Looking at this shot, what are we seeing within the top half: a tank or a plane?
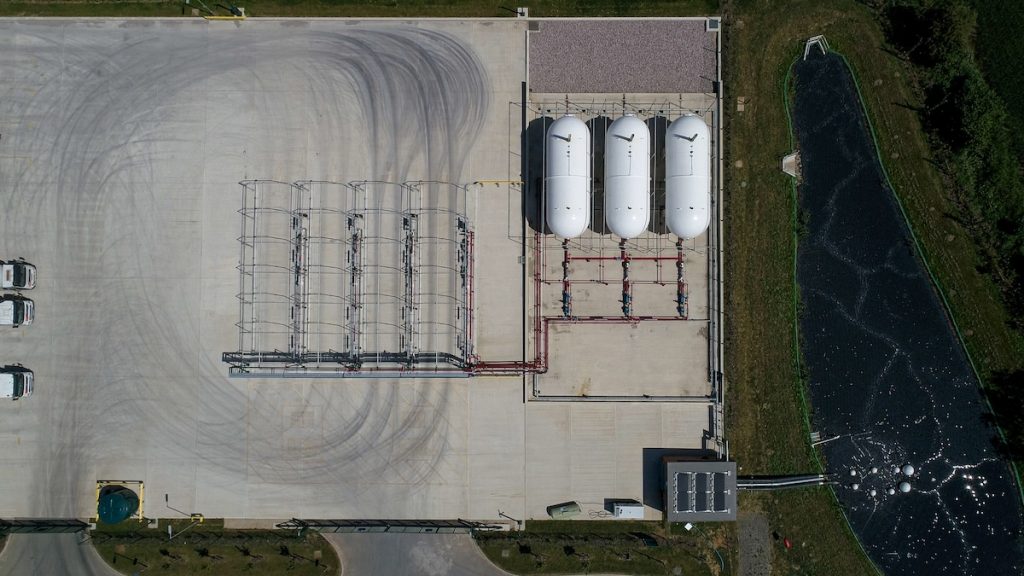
tank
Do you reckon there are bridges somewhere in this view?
No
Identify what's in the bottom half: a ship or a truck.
truck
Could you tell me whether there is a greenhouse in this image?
No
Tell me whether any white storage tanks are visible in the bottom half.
No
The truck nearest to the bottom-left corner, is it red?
No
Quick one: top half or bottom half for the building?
bottom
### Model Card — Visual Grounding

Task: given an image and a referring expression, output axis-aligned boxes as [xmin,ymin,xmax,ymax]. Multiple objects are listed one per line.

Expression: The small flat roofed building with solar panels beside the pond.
[662,456,736,521]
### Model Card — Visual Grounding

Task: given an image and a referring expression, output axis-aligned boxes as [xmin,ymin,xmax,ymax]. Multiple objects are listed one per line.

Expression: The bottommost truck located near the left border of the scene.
[0,370,34,402]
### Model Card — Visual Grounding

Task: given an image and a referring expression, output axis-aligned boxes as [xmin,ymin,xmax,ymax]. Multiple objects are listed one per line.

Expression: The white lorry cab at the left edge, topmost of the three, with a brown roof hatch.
[0,259,35,291]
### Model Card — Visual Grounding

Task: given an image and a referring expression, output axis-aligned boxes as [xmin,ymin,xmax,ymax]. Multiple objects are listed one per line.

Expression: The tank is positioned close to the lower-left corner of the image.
[98,486,140,524]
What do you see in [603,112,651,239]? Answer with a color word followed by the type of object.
white storage tank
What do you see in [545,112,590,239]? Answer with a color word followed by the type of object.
white storage tank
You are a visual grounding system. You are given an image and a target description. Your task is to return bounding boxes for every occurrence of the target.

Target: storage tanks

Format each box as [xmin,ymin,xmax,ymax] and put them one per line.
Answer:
[660,112,712,239]
[545,112,590,239]
[603,112,651,239]
[98,486,140,524]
